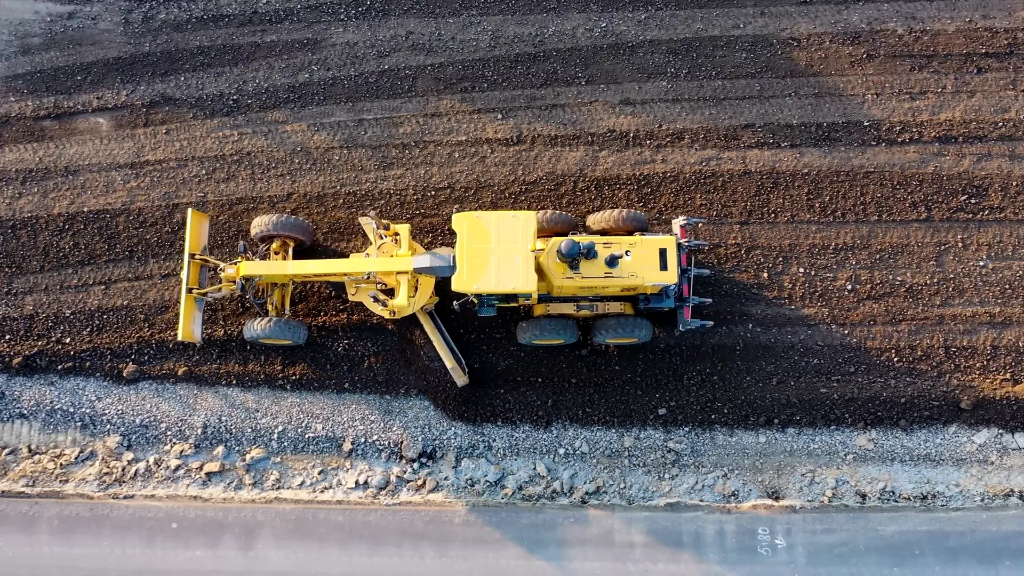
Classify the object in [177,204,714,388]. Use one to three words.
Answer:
work vehicle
